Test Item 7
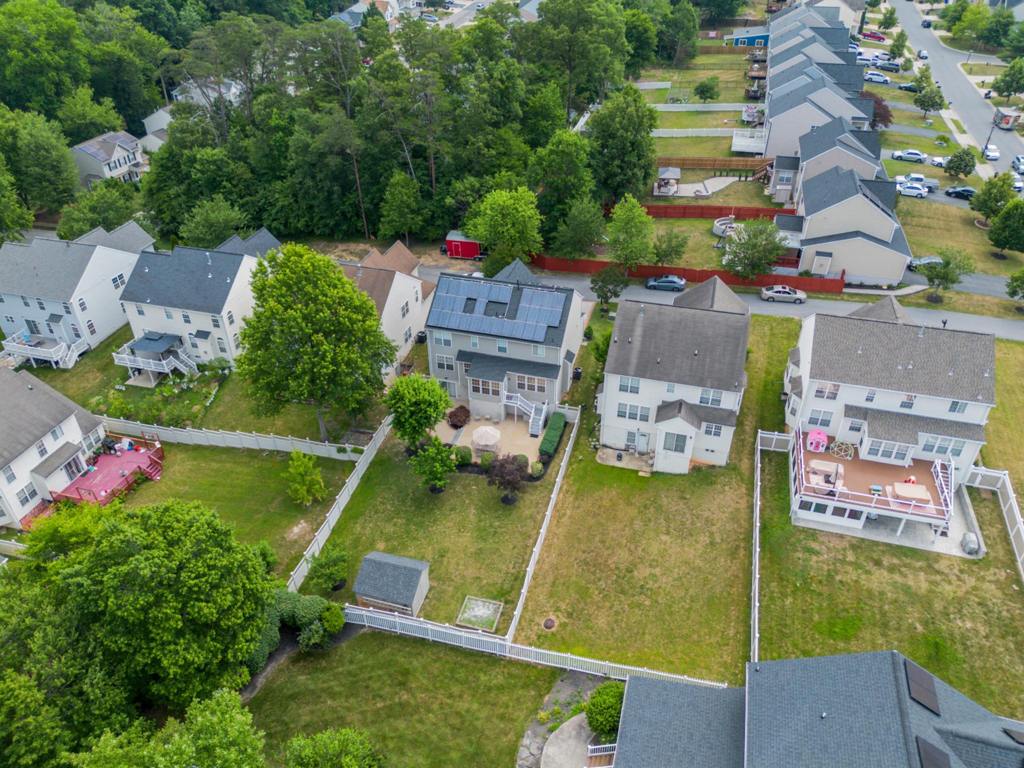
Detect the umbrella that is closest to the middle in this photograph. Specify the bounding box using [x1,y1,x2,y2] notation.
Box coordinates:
[469,420,503,444]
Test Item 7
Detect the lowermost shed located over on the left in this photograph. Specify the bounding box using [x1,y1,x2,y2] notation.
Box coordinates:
[353,549,429,616]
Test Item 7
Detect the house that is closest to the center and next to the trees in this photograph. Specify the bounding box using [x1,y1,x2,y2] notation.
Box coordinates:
[425,258,581,424]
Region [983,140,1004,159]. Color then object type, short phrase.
white car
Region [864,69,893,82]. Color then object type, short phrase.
white vehicle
